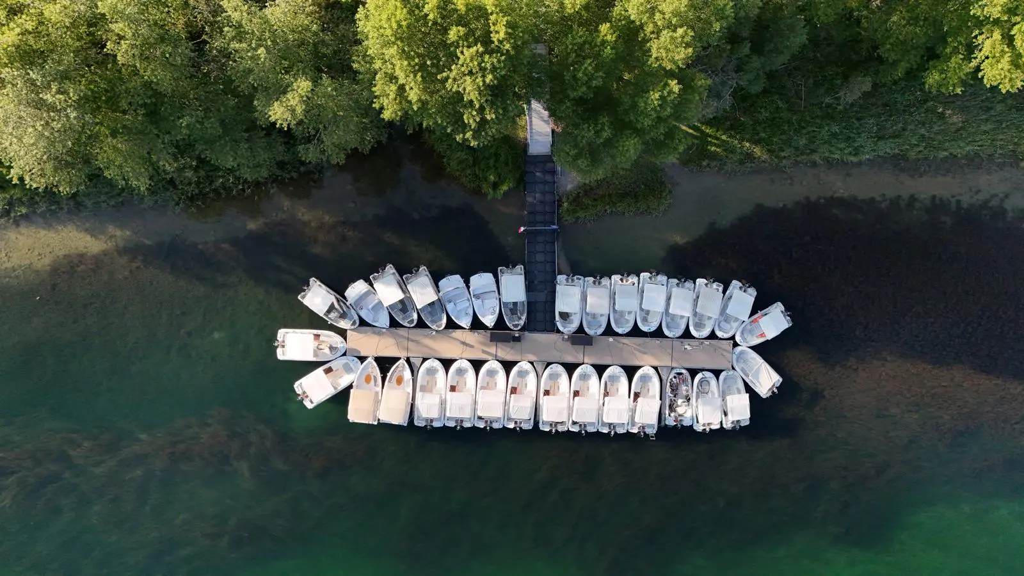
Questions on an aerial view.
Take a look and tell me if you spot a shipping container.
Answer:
No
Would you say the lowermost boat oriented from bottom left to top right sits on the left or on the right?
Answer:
left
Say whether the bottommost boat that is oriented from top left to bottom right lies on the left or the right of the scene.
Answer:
right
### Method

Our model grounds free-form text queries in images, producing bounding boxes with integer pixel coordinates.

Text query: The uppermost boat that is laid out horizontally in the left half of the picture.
[274,329,350,361]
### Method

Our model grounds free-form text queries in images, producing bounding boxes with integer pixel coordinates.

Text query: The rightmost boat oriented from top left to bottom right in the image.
[732,347,781,397]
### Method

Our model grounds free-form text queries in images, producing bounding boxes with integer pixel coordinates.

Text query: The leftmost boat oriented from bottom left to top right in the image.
[295,357,361,408]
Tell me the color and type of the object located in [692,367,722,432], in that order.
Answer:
white boat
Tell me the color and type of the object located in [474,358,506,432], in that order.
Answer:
white boat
